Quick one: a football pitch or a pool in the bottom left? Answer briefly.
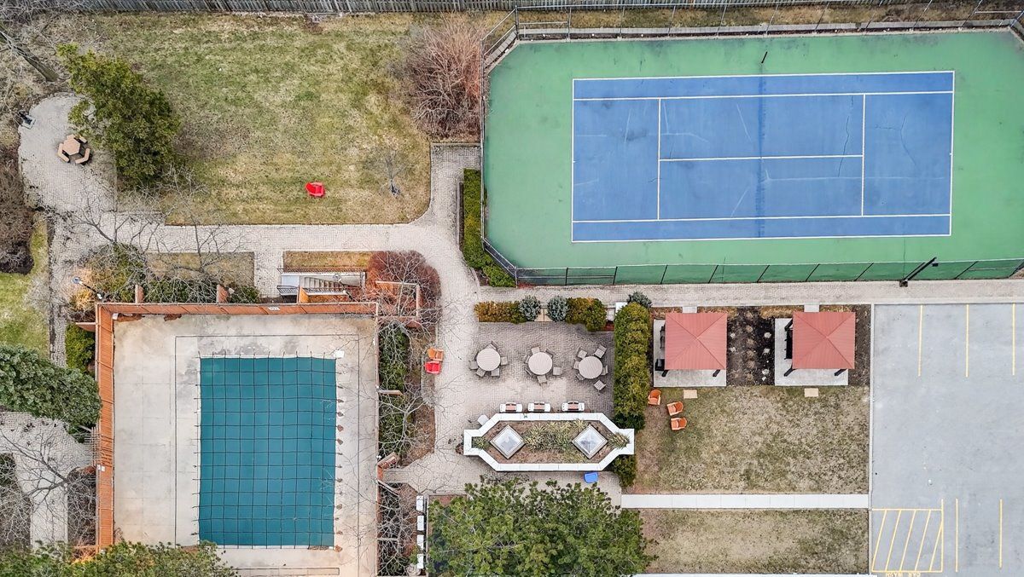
pool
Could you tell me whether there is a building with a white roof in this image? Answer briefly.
No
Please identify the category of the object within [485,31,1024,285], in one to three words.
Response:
tennis court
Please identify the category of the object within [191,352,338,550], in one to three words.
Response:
swimming pool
